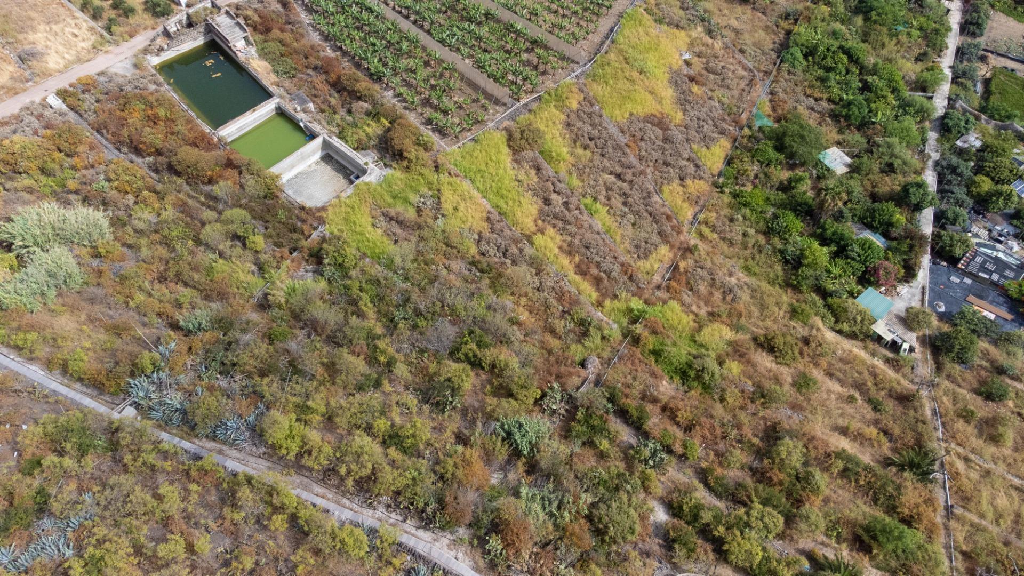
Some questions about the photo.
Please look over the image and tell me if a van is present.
No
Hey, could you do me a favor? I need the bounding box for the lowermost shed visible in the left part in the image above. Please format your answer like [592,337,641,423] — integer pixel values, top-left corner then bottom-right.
[288,91,318,121]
